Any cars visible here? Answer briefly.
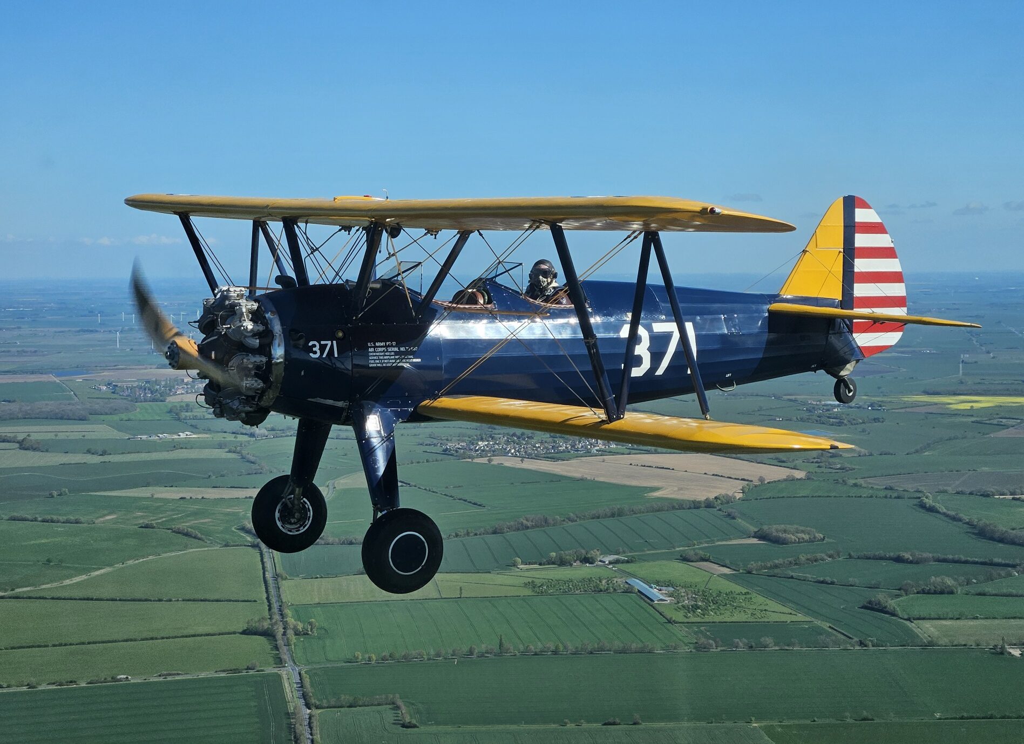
No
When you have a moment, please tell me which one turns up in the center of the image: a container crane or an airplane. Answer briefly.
airplane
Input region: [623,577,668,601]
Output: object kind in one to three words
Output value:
barn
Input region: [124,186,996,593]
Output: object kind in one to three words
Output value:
airplane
